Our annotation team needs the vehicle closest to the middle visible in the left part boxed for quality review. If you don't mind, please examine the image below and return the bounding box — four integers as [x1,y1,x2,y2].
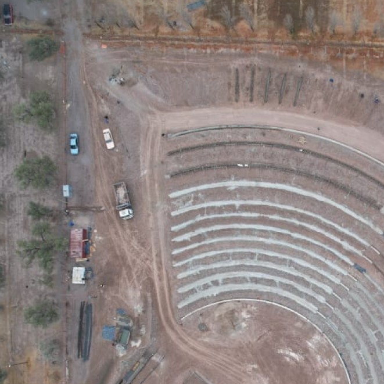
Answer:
[113,183,133,221]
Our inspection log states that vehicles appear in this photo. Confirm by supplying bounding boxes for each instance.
[103,128,115,150]
[3,4,14,26]
[70,133,79,155]
[113,183,133,221]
